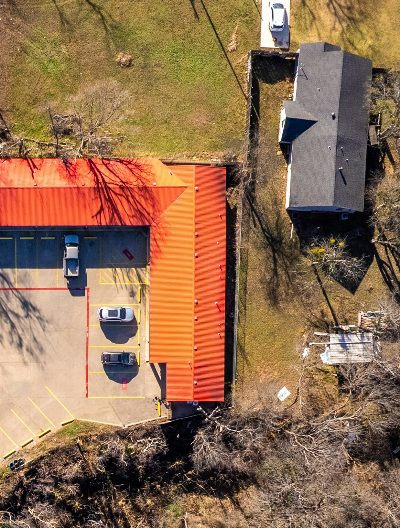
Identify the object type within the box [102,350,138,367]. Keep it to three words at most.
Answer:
car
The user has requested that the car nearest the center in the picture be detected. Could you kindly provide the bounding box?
[99,305,137,322]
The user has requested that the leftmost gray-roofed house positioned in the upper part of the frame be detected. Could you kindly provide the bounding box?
[282,41,372,213]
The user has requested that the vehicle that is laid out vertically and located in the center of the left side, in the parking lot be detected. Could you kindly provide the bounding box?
[64,234,82,277]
